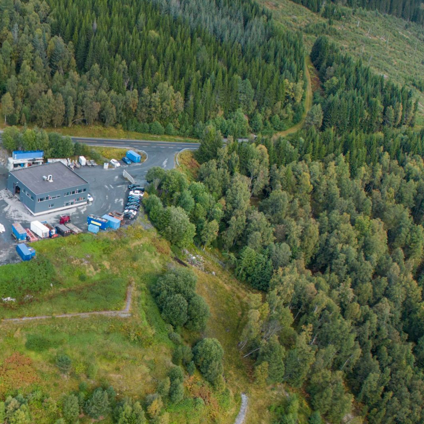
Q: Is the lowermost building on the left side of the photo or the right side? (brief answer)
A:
left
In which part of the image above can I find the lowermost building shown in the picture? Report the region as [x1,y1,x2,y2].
[0,164,90,216]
